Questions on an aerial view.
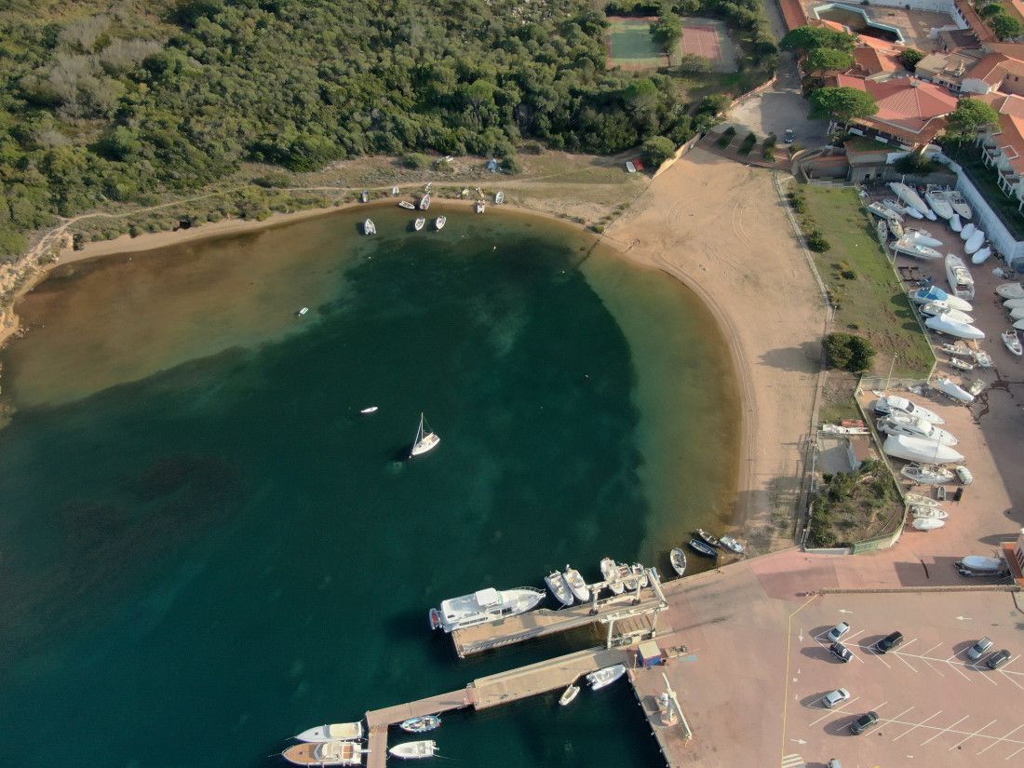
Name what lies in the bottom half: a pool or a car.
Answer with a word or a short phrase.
car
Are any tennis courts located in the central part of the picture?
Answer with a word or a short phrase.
No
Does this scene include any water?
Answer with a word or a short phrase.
Yes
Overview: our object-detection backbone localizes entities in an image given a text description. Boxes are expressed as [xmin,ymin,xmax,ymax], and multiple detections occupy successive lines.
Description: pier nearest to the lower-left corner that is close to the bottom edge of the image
[365,689,474,768]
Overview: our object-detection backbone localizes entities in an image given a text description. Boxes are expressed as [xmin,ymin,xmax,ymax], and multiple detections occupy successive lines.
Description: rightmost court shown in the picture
[680,7,740,73]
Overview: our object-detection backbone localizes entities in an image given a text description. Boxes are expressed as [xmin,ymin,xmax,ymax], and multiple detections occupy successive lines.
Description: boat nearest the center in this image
[412,415,441,456]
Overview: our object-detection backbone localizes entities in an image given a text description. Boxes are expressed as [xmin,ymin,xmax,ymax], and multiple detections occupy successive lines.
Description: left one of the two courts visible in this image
[606,8,671,72]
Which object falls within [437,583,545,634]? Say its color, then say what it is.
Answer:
white boat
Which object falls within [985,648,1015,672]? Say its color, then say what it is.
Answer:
gray car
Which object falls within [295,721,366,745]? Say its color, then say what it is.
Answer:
white boat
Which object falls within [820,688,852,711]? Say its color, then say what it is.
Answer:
white car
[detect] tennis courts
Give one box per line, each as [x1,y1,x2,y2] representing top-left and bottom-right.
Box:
[606,8,671,72]
[680,7,740,73]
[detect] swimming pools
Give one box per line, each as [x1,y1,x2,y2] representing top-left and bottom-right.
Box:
[813,3,906,45]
